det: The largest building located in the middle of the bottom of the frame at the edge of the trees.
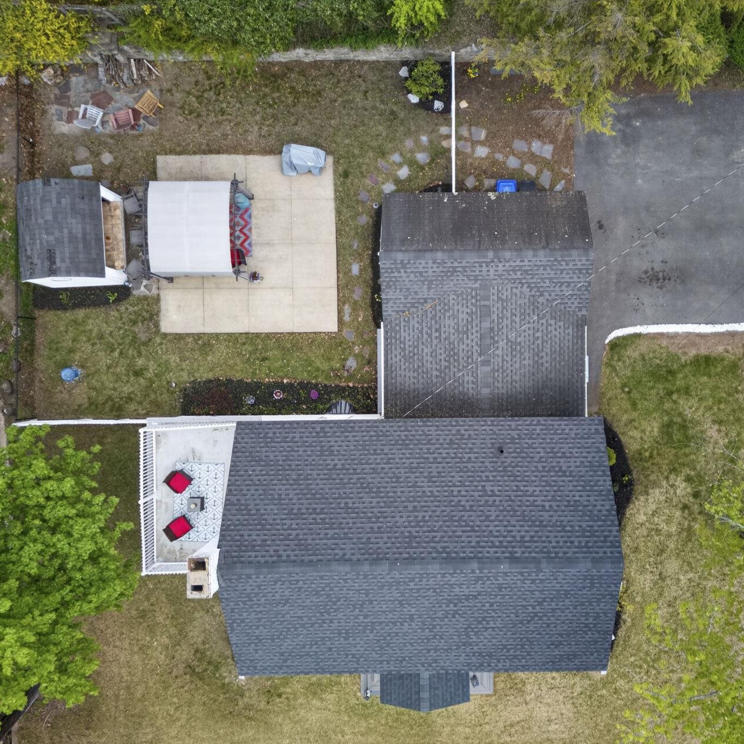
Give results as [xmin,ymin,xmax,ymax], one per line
[187,417,624,679]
